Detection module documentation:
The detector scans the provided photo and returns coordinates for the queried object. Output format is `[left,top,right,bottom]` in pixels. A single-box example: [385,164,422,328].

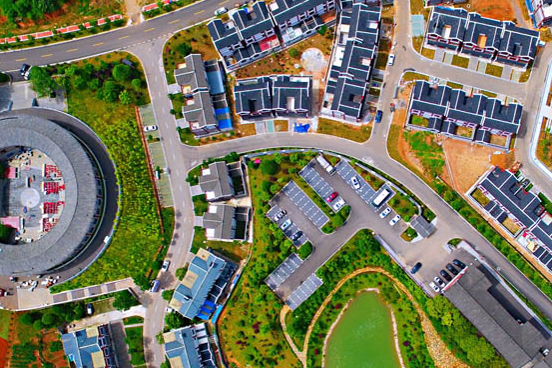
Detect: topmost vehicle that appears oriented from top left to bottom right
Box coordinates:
[314,153,331,172]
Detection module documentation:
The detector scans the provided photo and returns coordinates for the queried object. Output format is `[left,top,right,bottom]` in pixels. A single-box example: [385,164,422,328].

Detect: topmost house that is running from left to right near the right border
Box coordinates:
[422,3,540,72]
